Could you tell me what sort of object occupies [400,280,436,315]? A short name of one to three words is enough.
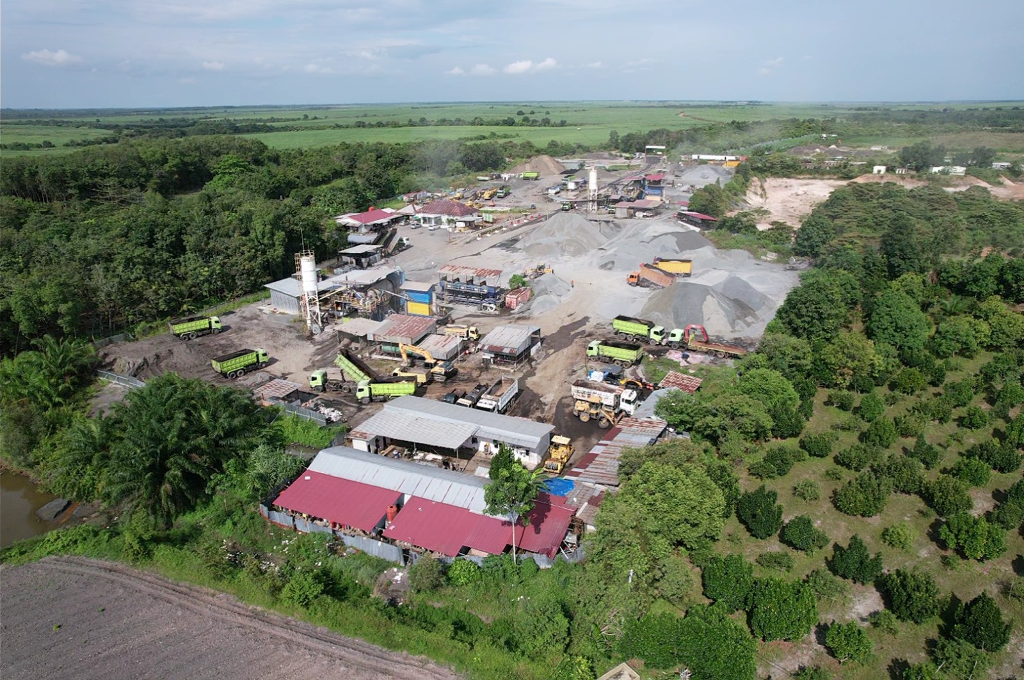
building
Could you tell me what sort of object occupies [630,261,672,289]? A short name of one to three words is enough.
truck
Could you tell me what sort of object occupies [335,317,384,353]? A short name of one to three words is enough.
shed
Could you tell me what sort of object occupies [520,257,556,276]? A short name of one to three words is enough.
work vehicle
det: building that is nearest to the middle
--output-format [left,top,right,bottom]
[474,324,541,372]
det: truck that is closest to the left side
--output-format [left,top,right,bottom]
[171,312,226,338]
